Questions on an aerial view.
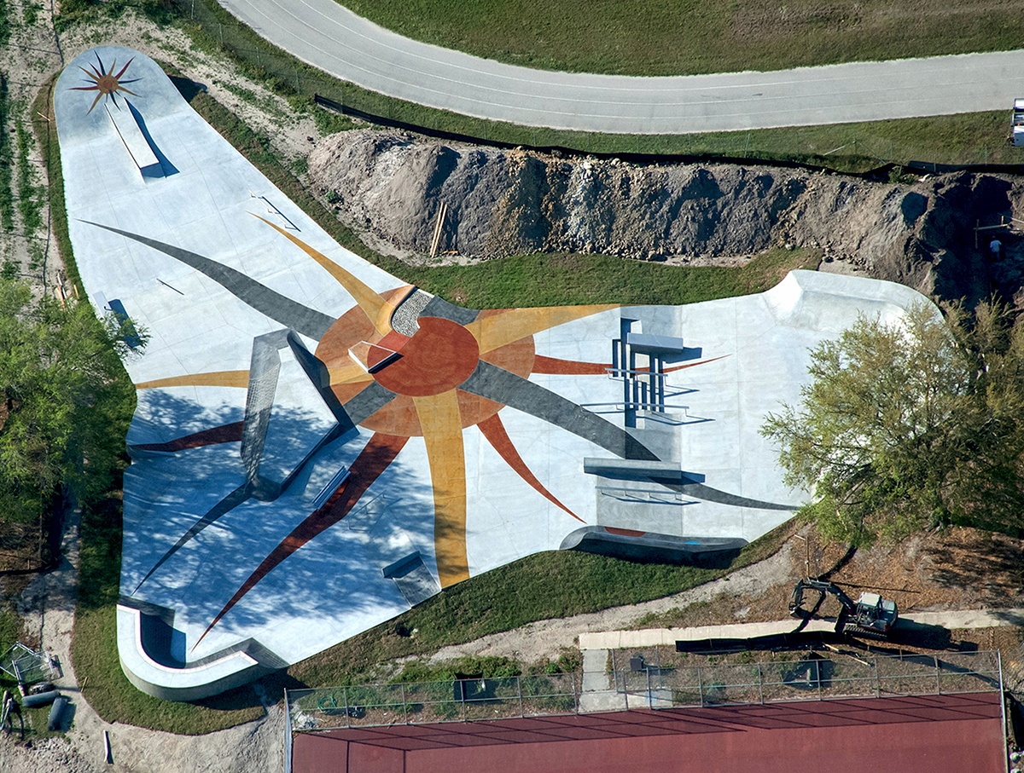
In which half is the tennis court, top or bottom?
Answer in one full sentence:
The tennis court is in the bottom half of the image.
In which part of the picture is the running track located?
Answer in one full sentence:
You can find the running track in the top area of the picture.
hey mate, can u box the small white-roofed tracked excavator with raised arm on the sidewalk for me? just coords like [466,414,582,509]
[785,569,904,645]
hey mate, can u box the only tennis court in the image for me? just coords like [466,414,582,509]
[291,692,1010,773]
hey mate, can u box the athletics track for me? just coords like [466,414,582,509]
[218,0,1024,133]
